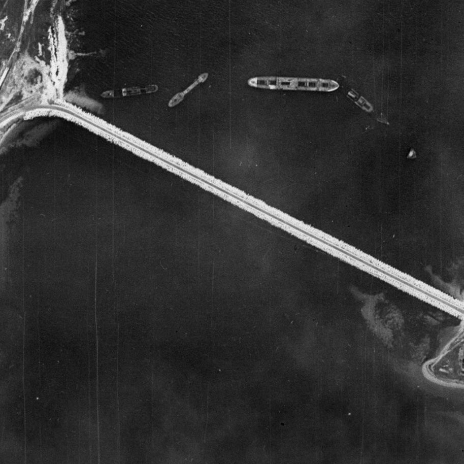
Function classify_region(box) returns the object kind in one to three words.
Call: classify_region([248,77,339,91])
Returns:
ship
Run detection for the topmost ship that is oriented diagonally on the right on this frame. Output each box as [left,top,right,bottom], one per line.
[347,89,374,112]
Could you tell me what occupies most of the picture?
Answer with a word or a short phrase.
water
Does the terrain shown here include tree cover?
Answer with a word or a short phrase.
No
